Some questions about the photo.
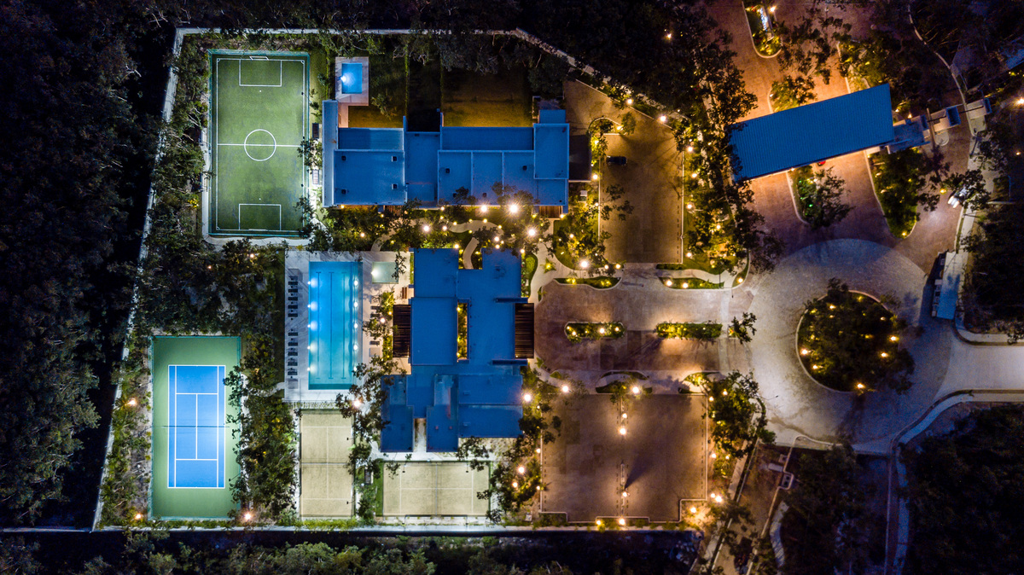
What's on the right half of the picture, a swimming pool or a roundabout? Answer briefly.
roundabout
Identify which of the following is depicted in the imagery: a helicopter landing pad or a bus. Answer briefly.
bus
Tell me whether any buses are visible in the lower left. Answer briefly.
No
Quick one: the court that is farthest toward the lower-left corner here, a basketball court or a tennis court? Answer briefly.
tennis court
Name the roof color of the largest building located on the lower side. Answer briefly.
blue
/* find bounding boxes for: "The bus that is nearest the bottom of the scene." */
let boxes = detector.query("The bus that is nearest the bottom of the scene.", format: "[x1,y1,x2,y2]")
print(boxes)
[932,251,964,320]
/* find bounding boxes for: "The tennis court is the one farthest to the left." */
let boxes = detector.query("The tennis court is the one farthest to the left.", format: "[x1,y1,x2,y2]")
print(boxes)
[153,337,236,517]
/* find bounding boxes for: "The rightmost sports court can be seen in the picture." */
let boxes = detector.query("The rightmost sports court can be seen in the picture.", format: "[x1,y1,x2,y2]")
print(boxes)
[384,463,489,515]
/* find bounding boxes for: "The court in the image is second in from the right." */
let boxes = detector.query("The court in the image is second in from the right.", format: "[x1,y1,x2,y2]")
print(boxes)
[301,413,353,517]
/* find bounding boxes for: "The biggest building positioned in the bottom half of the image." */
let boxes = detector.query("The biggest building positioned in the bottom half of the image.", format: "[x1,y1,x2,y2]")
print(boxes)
[381,248,534,452]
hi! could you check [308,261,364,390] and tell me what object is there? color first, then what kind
blue swimming pool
